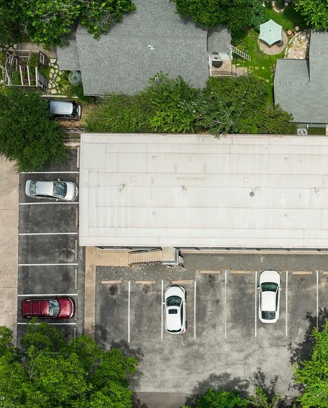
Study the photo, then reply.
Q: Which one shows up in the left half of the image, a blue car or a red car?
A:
red car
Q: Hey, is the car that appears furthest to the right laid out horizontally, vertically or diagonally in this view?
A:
vertically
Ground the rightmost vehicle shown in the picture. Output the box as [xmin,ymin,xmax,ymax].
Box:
[256,270,282,324]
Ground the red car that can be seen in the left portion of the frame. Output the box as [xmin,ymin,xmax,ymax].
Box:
[20,296,77,321]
